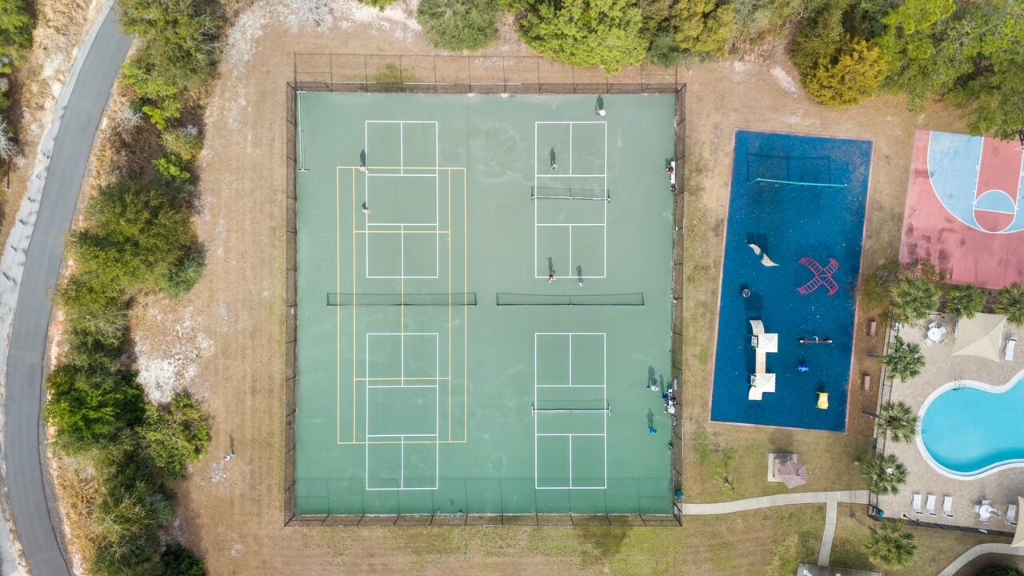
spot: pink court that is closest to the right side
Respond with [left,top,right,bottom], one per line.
[899,129,1024,287]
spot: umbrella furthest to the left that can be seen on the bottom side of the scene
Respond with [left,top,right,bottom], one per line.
[778,460,805,487]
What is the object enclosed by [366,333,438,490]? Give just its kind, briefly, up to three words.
sports court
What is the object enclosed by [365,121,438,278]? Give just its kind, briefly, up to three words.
sports court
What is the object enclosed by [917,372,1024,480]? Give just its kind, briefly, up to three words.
swimming pool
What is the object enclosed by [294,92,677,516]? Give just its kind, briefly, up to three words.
tennis court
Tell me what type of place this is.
sports ground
